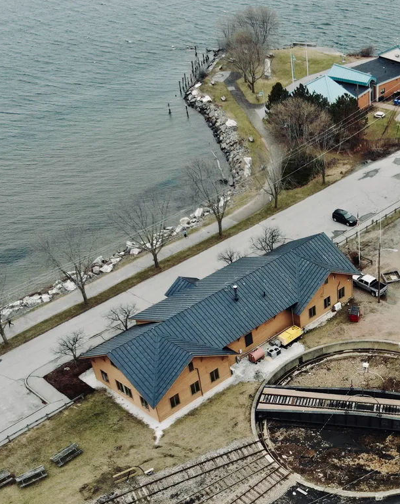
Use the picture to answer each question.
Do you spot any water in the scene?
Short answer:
Yes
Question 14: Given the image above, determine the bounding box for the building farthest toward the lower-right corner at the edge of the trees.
[85,235,361,422]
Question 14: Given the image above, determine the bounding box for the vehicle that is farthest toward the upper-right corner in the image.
[331,208,359,226]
